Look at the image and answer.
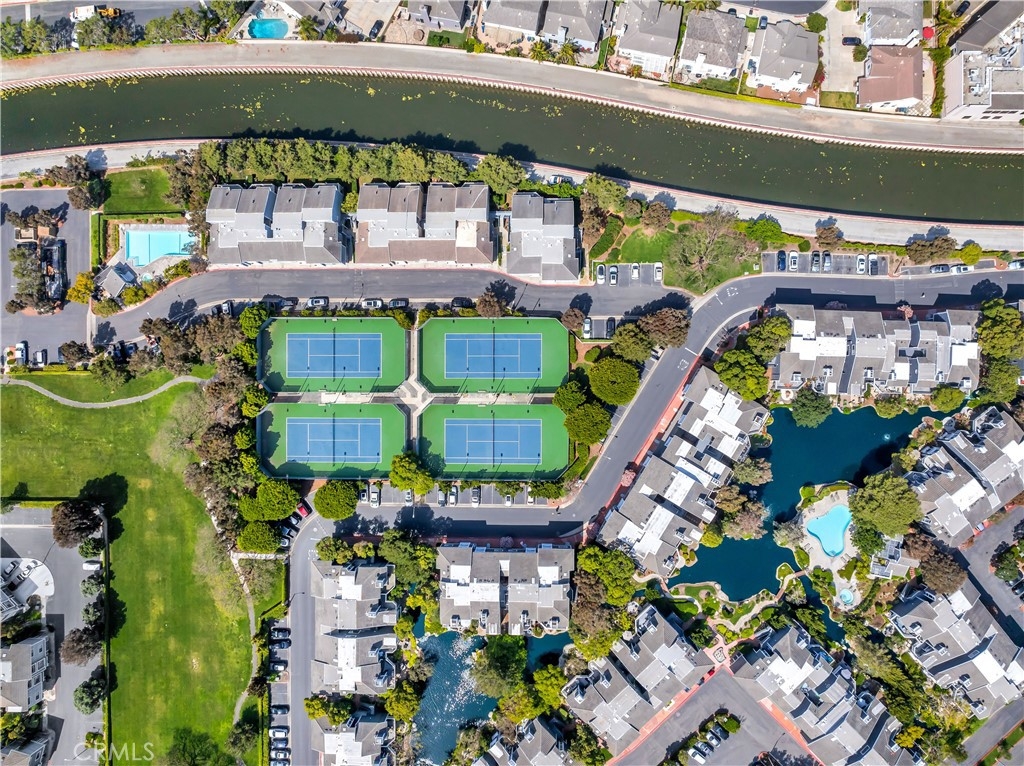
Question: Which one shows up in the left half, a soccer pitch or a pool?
pool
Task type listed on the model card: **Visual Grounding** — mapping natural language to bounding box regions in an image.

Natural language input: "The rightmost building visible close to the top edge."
[938,0,1024,121]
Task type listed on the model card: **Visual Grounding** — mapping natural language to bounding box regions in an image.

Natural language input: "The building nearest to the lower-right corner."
[883,576,1024,720]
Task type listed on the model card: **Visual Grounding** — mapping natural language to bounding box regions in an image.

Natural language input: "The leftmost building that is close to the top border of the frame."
[277,0,349,36]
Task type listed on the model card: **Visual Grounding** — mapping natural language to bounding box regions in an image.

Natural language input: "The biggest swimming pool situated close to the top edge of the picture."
[248,18,288,37]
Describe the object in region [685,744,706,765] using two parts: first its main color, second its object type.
white vehicle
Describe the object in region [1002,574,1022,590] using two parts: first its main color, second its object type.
gray car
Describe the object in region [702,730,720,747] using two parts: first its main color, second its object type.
white car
